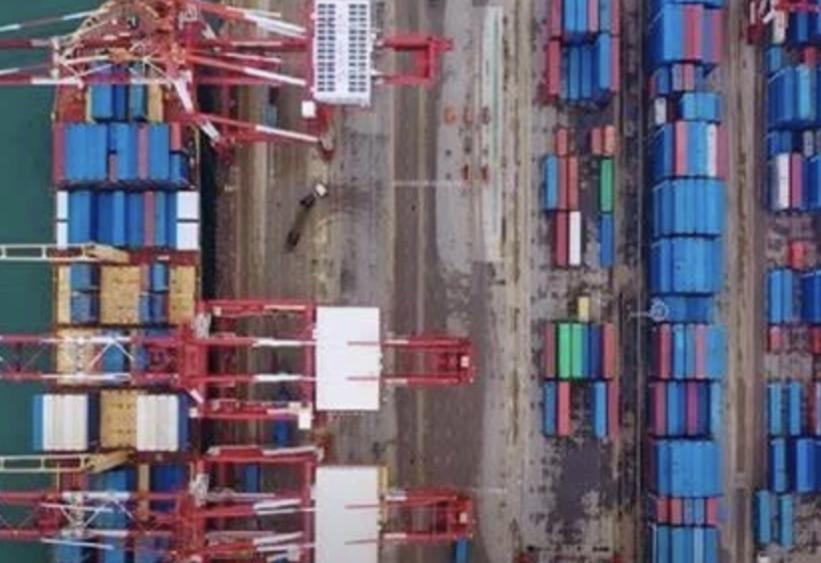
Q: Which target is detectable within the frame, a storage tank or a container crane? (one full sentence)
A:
This aerial view contains a container crane.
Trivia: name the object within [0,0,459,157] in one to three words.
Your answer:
container crane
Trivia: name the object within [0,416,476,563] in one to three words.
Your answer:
container crane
